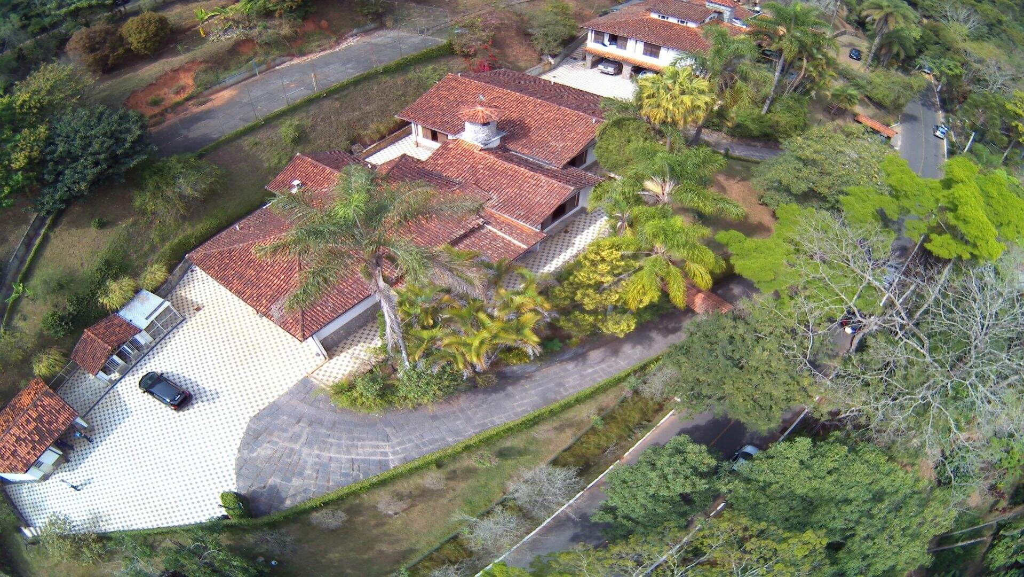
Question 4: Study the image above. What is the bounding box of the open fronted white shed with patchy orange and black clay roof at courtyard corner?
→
[0,378,93,476]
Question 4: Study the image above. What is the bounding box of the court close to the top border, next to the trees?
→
[125,26,450,162]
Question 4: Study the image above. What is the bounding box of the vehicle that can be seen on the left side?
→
[134,373,186,410]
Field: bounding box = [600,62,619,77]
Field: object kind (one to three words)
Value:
car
